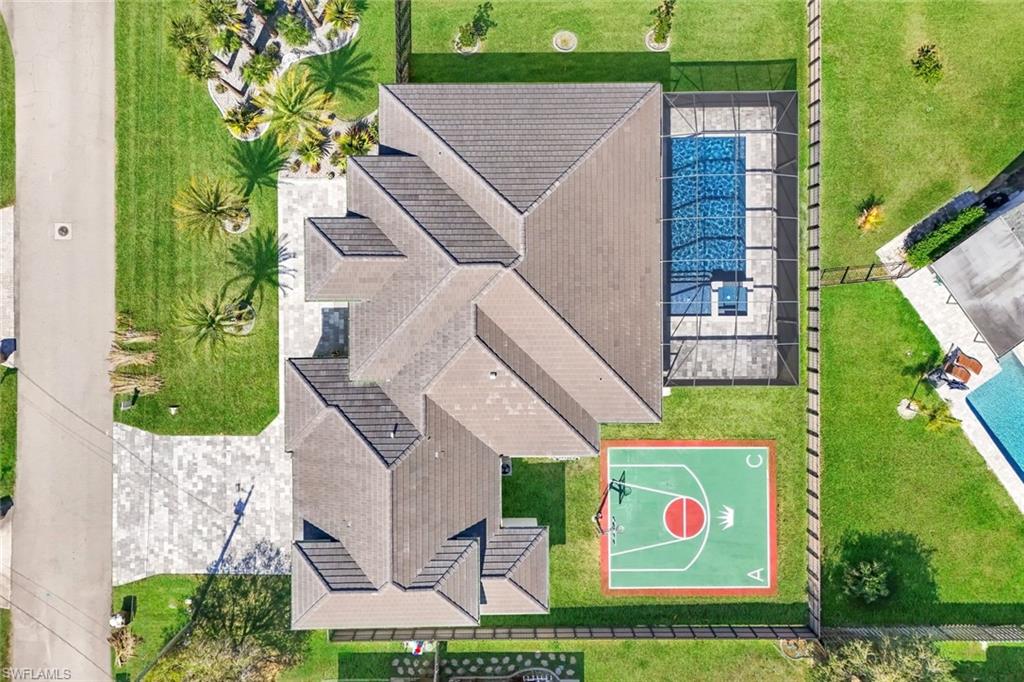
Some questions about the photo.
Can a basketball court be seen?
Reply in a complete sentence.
Yes, a basketball court can be made out from above.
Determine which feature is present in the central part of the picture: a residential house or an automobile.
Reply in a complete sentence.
It is a residential house that can be seen in the central part of the picture.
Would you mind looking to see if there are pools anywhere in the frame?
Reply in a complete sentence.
Yes, the photo shows a pool.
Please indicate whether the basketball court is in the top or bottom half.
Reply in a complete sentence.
The bottom half of the photo is where the basketball court is.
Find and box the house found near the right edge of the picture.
[929,173,1024,358]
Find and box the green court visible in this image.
[601,440,777,596]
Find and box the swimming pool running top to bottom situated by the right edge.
[962,337,1024,484]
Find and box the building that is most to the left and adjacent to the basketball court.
[284,83,663,630]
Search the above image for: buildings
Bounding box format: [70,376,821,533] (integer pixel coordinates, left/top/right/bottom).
[284,83,663,630]
[929,173,1024,358]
